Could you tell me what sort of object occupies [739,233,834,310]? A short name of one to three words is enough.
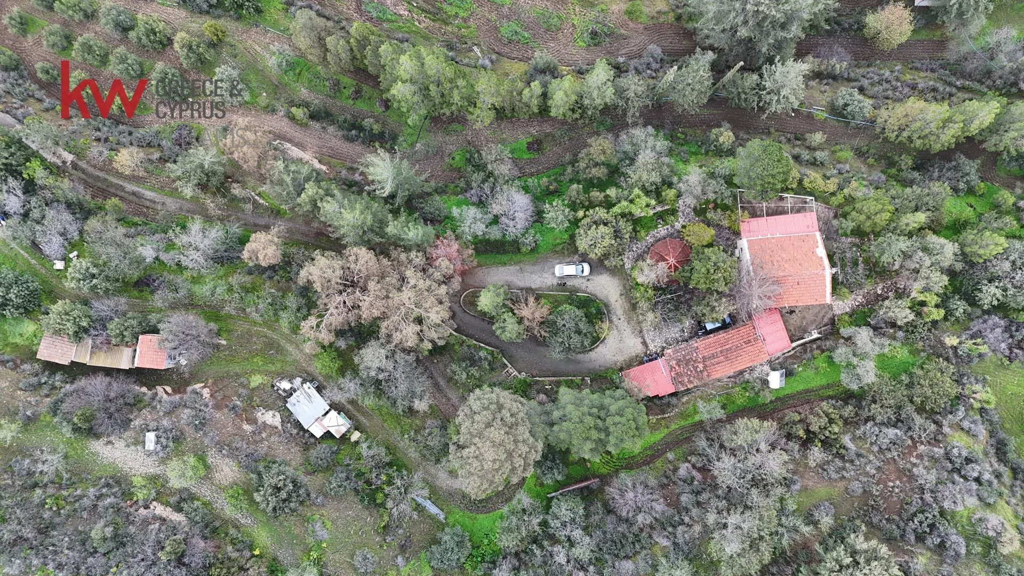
house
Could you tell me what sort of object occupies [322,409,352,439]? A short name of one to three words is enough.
shed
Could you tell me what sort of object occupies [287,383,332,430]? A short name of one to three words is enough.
shed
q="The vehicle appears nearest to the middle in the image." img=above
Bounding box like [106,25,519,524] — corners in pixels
[554,261,590,278]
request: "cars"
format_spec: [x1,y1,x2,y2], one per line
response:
[554,261,590,278]
[695,314,733,336]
